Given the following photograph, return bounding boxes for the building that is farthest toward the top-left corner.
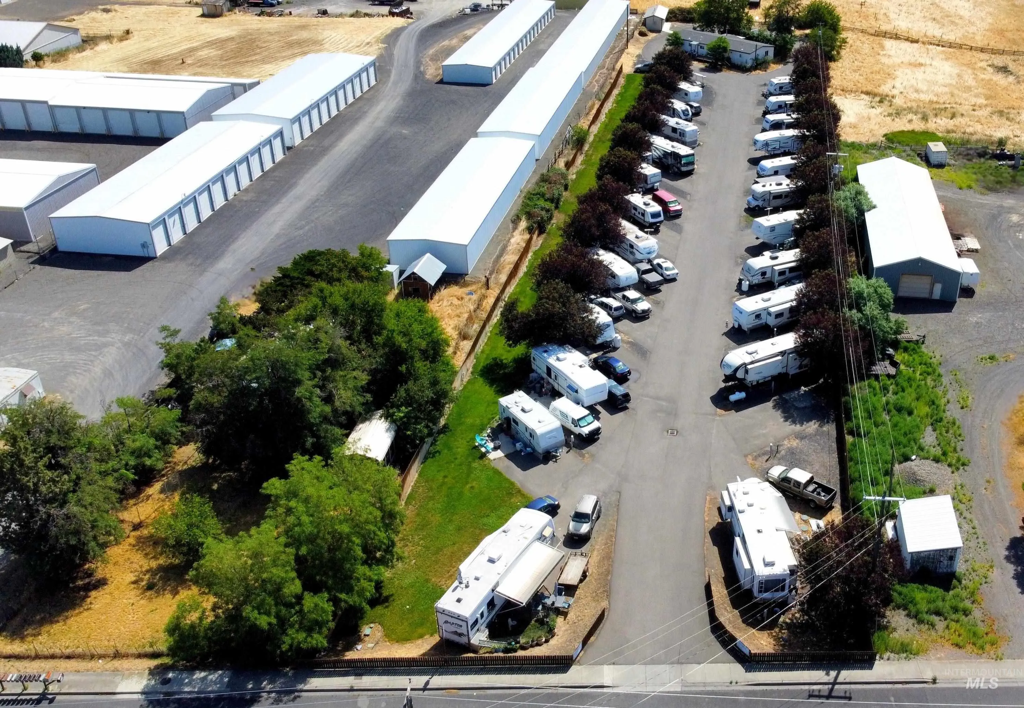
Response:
[0,24,88,64]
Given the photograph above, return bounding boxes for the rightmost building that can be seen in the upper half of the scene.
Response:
[855,155,966,302]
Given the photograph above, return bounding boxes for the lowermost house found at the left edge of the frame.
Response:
[0,369,44,438]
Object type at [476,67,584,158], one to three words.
building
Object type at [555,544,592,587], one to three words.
trailer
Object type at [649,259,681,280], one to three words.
car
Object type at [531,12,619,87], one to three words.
building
